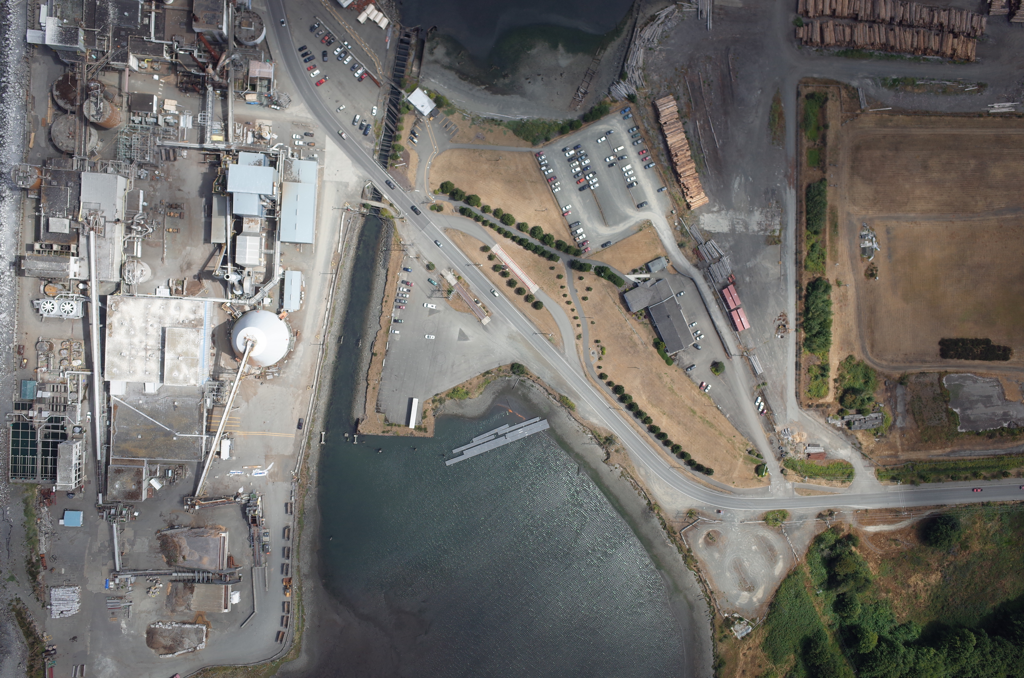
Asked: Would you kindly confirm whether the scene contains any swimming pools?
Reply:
No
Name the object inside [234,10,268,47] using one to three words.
storage tank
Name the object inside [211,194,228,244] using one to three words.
shed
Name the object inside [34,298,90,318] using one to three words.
cooling tower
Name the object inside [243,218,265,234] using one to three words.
building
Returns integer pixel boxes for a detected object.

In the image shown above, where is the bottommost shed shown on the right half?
[843,413,884,430]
